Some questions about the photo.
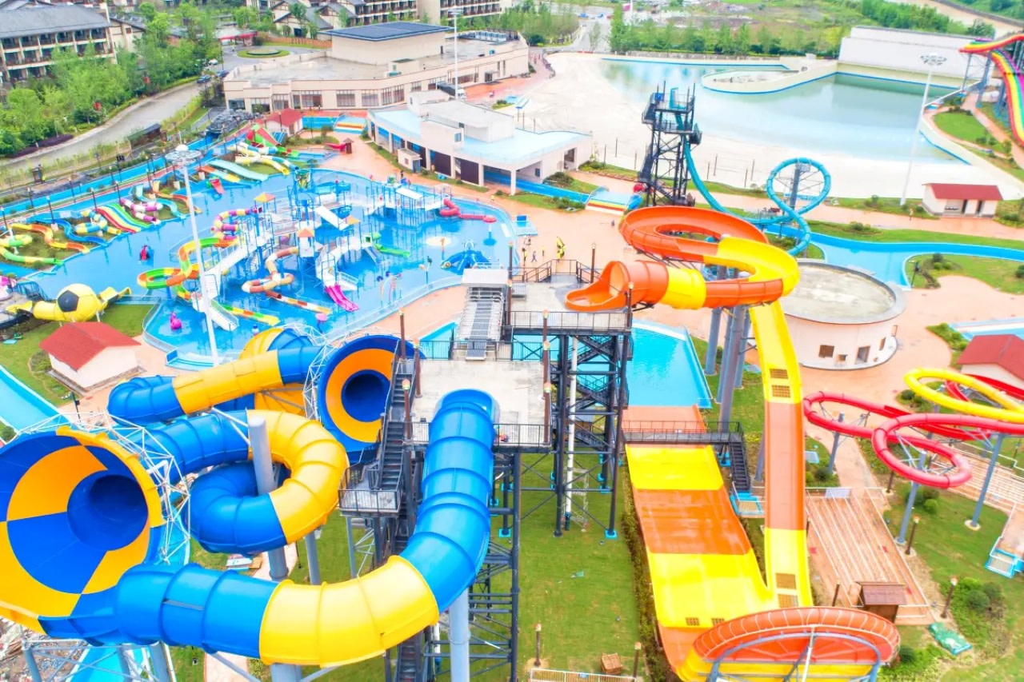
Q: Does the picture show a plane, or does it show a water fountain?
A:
water fountain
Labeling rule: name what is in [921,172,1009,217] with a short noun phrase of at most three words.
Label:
shed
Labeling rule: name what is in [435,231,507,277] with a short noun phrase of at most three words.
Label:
fountain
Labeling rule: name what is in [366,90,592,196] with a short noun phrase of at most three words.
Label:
house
